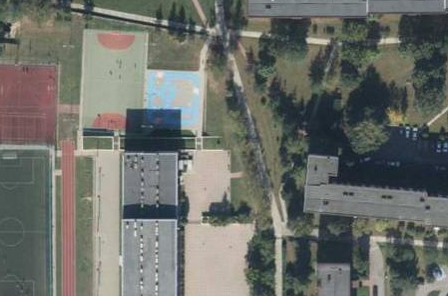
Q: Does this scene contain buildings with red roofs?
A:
No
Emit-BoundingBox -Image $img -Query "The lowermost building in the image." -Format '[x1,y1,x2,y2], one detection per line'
[318,262,352,296]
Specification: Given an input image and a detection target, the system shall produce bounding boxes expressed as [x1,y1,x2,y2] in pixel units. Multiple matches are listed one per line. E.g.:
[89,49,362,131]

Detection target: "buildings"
[318,262,352,296]
[119,153,185,296]
[303,155,448,227]
[246,0,448,19]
